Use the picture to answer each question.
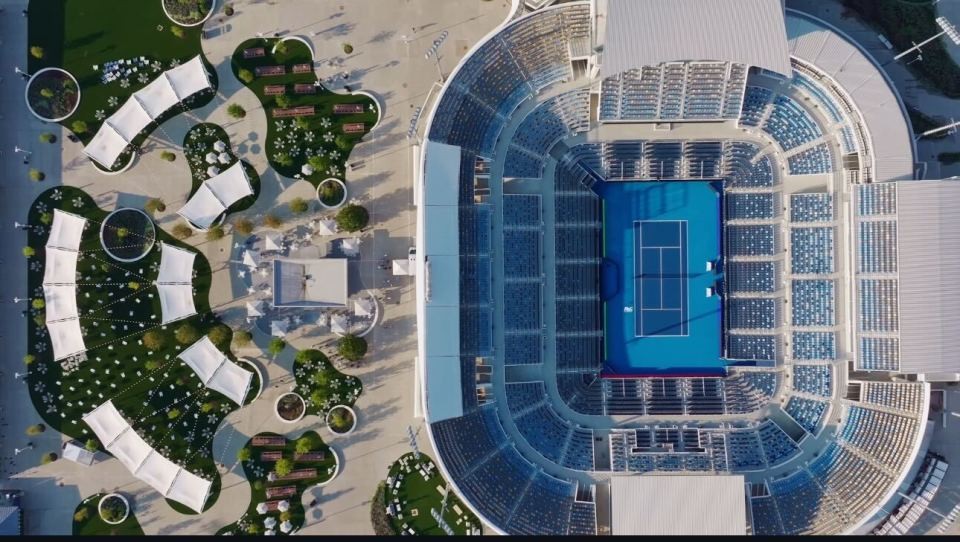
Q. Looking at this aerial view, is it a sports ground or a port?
sports ground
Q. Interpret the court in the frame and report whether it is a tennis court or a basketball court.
tennis court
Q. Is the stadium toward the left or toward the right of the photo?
right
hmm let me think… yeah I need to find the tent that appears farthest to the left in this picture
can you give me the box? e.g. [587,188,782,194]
[63,440,102,466]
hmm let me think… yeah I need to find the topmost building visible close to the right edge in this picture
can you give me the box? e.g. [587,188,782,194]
[927,388,945,412]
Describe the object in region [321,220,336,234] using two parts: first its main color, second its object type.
white umbrella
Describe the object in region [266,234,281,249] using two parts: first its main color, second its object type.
white umbrella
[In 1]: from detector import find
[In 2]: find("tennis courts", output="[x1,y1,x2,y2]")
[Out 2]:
[598,178,730,381]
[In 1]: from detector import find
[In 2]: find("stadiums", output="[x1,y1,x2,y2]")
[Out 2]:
[412,0,960,542]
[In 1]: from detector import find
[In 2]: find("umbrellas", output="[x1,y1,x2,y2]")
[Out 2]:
[321,220,336,234]
[357,300,371,314]
[264,527,277,537]
[264,516,277,529]
[268,471,278,481]
[213,140,227,152]
[301,164,313,176]
[248,300,263,316]
[273,322,288,336]
[266,234,281,249]
[332,316,347,331]
[244,249,262,267]
[205,152,218,165]
[218,152,232,165]
[207,166,220,178]
[256,502,269,514]
[278,499,290,511]
[280,520,292,533]
[342,237,358,253]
